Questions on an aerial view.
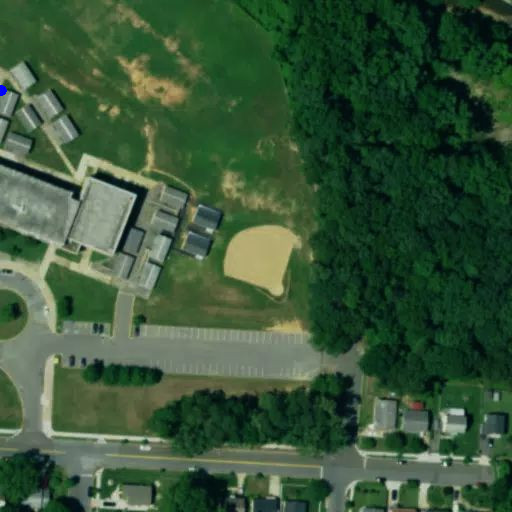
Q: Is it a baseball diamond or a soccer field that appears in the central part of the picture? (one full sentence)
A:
The feature located in the central part of the picture is a baseball diamond.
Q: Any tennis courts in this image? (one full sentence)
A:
No, no tennis court is visible in the scene.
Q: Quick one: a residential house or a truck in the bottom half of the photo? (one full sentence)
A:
The feature located in the bottom half of the photo is a residential house.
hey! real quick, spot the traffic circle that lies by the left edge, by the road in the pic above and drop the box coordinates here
[0,272,44,340]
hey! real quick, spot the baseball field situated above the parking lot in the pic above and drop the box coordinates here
[224,225,302,296]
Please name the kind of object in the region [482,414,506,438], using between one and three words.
house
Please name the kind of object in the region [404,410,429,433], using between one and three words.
house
